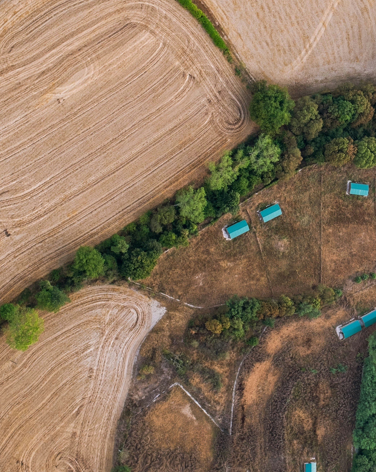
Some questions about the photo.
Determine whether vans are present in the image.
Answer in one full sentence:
No, no van can be seen from above.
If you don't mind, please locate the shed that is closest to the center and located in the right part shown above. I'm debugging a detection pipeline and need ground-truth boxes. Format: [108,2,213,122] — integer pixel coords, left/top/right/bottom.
[221,219,249,240]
